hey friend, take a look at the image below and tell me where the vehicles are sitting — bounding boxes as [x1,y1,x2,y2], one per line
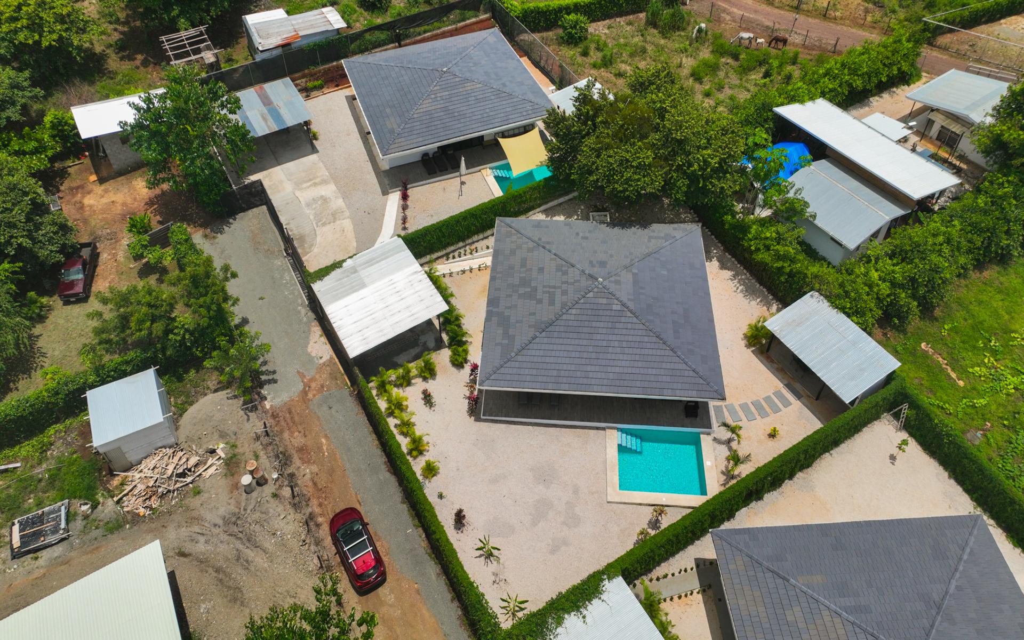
[60,242,106,302]
[332,511,386,599]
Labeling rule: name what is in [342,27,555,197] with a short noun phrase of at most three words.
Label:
house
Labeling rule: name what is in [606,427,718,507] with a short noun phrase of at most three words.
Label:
swimming pool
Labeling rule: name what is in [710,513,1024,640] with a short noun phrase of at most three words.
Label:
house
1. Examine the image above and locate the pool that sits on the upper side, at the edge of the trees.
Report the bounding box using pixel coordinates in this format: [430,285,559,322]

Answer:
[482,152,565,198]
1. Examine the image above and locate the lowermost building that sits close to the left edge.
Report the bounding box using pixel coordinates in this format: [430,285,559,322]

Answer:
[0,540,215,640]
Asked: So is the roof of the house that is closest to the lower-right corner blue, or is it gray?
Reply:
gray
